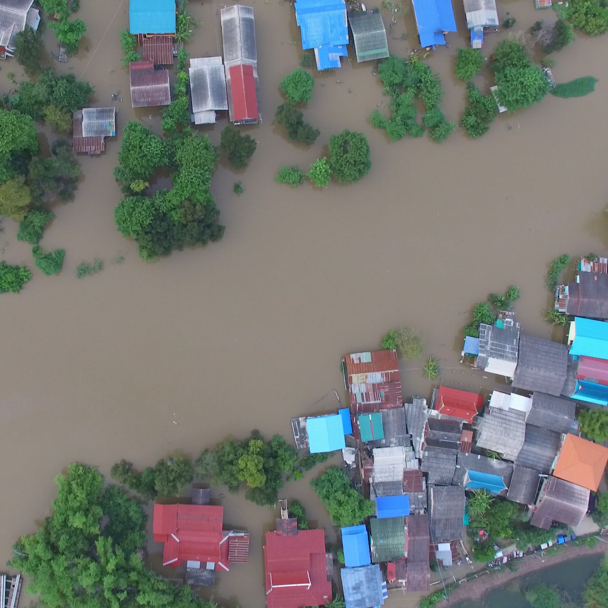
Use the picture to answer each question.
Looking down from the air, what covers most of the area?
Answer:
water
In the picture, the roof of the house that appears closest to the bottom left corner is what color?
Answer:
red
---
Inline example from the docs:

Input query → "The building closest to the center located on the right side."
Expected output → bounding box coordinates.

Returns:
[340,350,402,414]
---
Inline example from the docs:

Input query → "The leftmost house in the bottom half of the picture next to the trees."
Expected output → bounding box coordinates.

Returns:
[153,486,249,586]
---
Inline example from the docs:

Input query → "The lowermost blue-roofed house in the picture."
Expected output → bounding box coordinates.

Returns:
[340,561,388,608]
